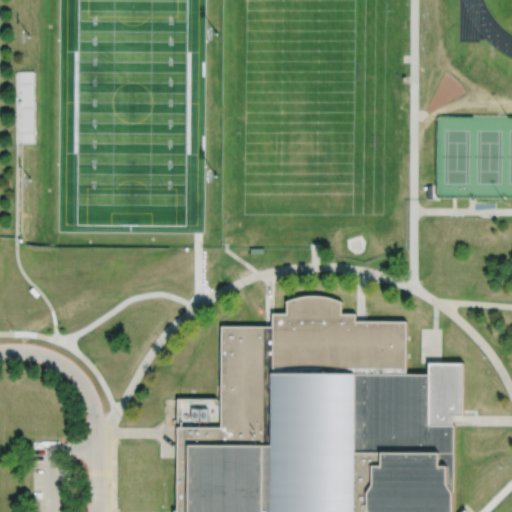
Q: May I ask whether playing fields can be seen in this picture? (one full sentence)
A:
Yes, the frame does contain a playing field.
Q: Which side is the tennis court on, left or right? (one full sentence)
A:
The tennis court appears in the right half of the scene.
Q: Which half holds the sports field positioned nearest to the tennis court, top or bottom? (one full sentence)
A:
You can find the sports field positioned nearest to the tennis court in the top half.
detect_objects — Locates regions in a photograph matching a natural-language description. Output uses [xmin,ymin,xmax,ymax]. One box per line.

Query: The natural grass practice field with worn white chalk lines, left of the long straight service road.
[224,0,402,232]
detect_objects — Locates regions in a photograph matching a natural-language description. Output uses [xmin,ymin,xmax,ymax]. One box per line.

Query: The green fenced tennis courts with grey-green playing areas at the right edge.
[438,116,512,196]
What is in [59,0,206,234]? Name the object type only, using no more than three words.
sports field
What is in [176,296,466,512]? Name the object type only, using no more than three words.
building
